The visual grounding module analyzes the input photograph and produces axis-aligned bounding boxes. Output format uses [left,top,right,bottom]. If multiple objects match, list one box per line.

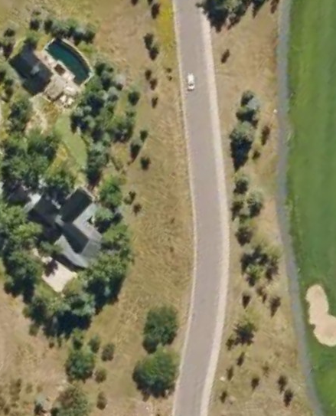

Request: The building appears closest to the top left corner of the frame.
[7,43,54,92]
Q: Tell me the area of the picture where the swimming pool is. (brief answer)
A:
top left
